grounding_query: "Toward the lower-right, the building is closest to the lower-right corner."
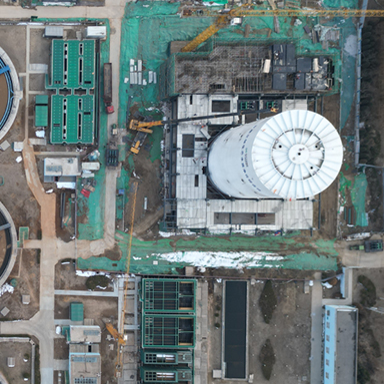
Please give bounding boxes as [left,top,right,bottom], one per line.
[325,307,357,384]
